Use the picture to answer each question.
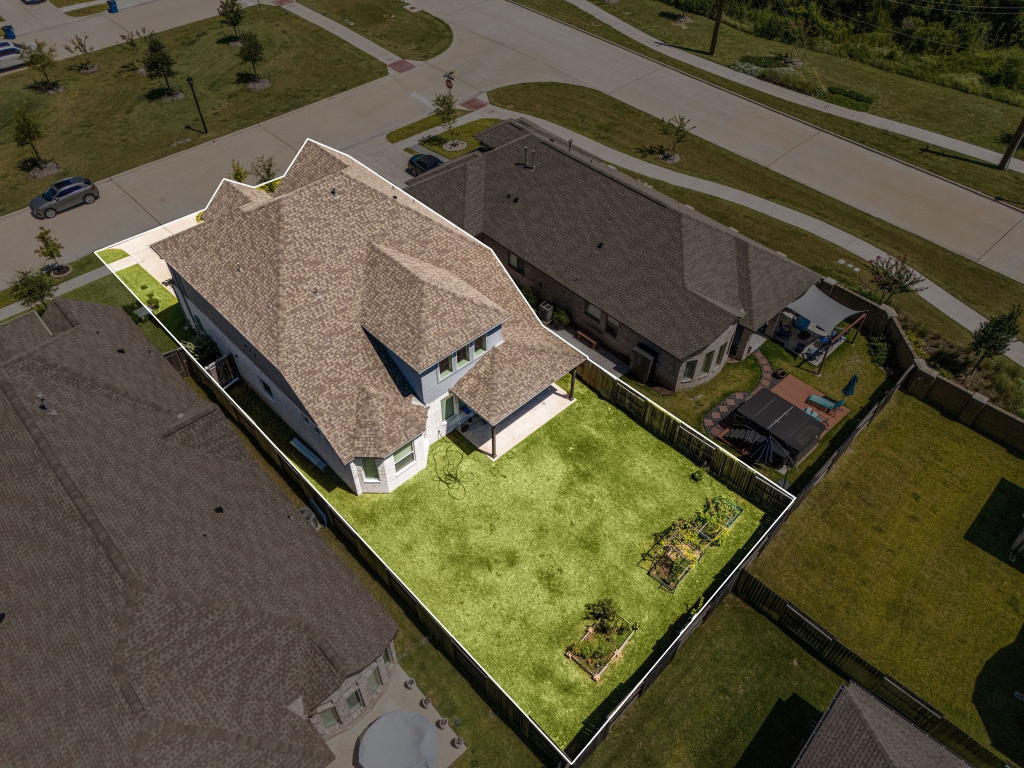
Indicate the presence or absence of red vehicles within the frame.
No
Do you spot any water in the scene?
No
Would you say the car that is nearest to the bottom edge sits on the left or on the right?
left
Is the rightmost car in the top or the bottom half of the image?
top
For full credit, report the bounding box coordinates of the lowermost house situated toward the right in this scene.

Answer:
[779,679,964,768]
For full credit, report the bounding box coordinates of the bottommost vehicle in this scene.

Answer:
[27,174,99,219]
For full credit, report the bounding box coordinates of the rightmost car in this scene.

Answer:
[407,149,449,174]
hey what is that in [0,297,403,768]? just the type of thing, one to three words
house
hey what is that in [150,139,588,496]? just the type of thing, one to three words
house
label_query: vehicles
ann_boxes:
[407,149,449,174]
[0,56,21,72]
[27,174,99,219]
